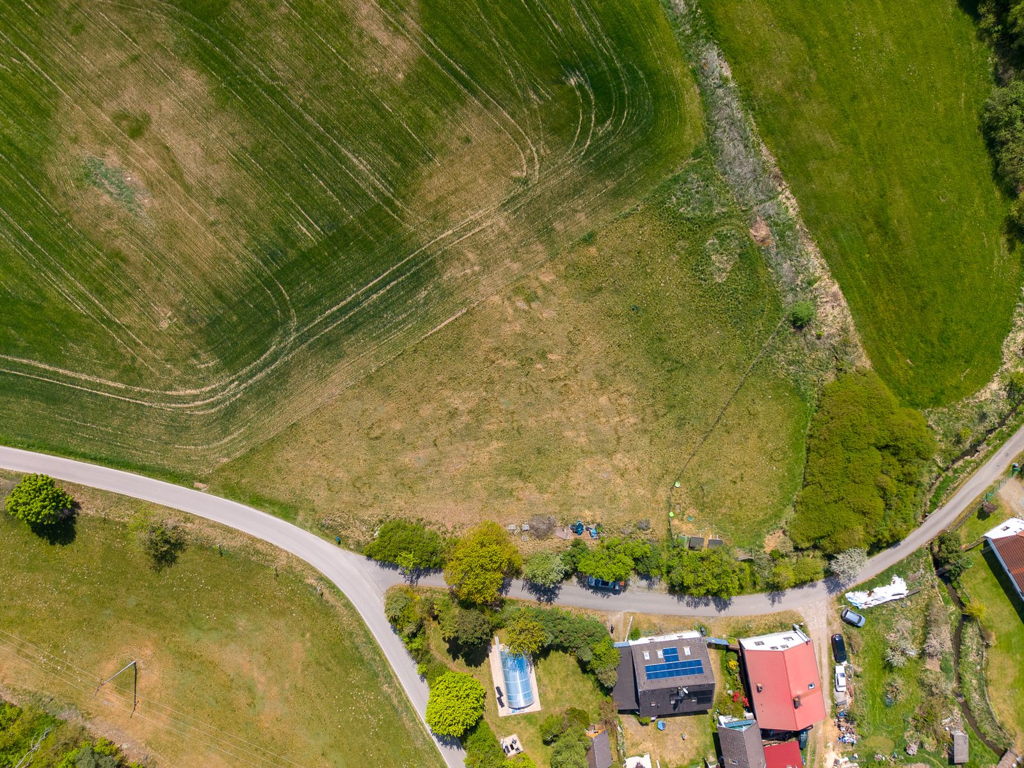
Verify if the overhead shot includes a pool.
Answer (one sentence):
Yes, the frame does contain a pool.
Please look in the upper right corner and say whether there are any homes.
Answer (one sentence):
No, I can find no home in the upper right corner.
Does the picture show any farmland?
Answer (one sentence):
Yes, farmland shows up in the scene.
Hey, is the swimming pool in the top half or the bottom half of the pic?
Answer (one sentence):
You can find the swimming pool in the bottom half.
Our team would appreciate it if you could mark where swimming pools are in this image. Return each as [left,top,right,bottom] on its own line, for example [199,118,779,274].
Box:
[503,647,533,706]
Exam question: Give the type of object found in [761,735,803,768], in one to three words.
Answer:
shed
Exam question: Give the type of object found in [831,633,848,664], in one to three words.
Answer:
car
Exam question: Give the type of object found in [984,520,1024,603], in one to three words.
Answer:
house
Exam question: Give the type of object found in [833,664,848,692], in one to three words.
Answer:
car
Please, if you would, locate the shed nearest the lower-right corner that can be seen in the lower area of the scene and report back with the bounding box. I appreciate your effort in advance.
[946,728,969,763]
